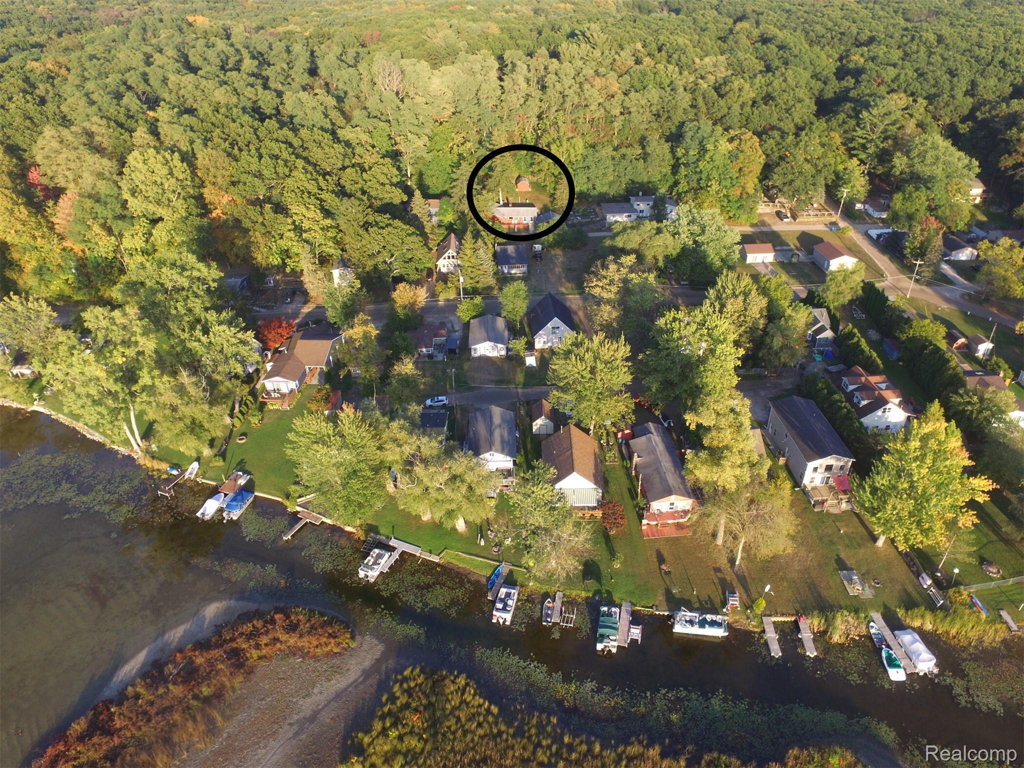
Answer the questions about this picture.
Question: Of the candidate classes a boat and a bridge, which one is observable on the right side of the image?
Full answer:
Looking on the right side of the image, you will find a boat.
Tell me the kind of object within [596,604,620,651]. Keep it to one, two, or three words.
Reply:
boat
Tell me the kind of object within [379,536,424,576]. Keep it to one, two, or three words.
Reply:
pier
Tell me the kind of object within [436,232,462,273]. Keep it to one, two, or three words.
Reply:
house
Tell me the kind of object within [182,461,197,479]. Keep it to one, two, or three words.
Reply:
boat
